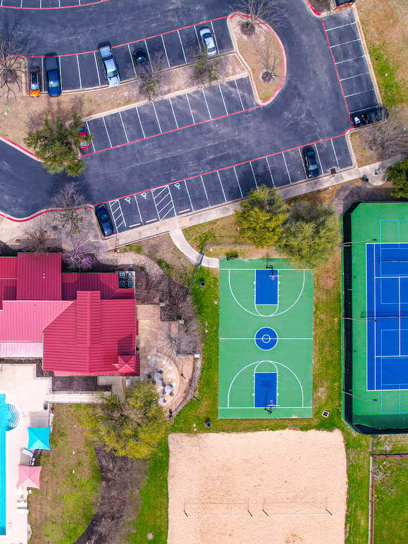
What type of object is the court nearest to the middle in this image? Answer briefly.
basketball court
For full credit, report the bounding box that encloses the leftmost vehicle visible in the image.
[28,69,42,94]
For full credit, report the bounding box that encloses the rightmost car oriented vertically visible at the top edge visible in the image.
[199,27,216,58]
